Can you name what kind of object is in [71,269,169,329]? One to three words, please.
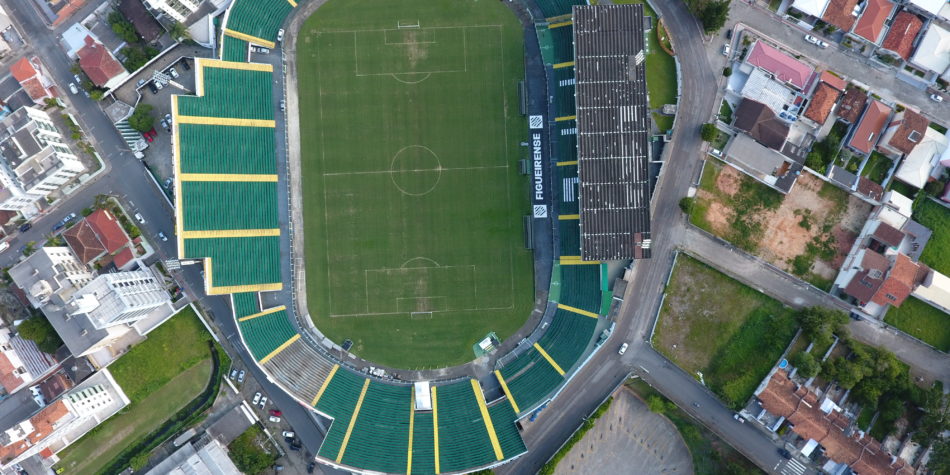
building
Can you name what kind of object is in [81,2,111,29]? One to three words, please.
shed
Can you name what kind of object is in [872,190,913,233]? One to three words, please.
house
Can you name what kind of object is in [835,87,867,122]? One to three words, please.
house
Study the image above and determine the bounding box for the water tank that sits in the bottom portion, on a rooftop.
[26,277,57,301]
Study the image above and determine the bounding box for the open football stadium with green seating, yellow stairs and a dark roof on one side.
[172,0,652,475]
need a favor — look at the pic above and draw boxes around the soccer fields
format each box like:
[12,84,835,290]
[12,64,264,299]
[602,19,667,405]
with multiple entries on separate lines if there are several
[299,0,533,370]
